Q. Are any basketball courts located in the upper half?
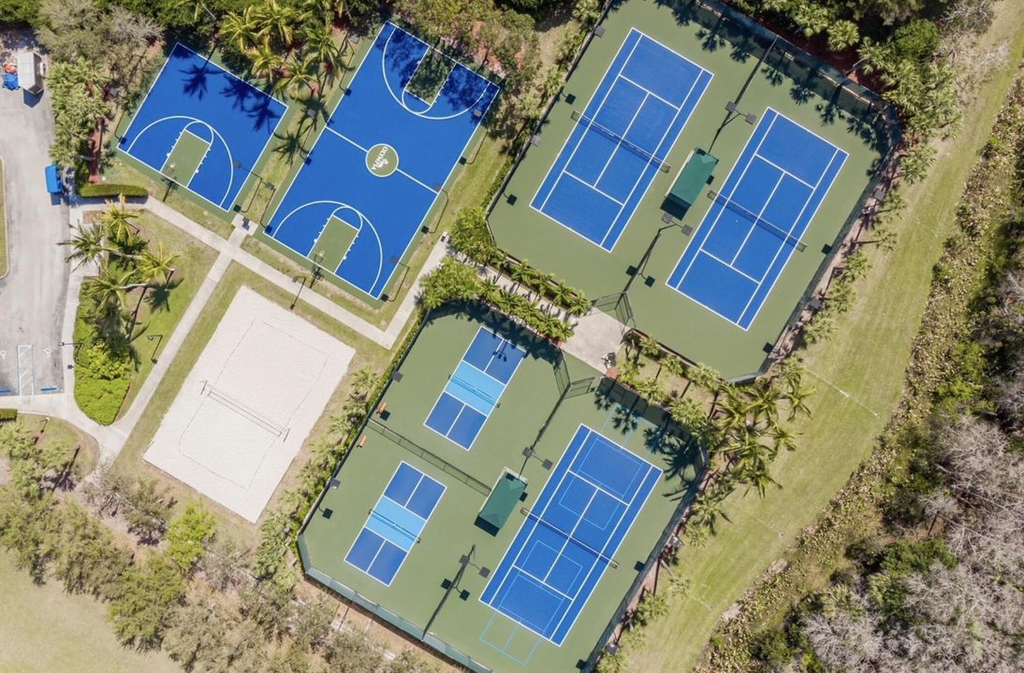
Yes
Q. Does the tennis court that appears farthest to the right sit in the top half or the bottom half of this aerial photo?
top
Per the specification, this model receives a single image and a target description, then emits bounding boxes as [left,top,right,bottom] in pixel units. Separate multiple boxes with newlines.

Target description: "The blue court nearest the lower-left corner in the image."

[344,461,447,587]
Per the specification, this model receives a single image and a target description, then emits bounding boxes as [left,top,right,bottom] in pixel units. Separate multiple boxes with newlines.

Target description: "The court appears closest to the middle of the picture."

[423,325,527,452]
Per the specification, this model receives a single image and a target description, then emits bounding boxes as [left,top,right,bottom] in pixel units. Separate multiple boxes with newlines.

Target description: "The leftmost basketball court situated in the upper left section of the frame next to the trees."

[109,36,300,224]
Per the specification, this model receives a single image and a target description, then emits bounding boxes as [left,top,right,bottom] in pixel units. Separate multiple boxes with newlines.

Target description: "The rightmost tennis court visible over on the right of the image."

[665,106,849,331]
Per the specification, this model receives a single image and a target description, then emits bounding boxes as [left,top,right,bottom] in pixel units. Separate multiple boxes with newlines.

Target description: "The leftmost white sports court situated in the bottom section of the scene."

[143,286,356,523]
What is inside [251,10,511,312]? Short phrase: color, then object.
blue basketball court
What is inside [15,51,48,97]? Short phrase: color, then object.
white trailer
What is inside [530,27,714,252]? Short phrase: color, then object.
blue tennis court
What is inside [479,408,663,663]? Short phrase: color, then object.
blue tennis court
